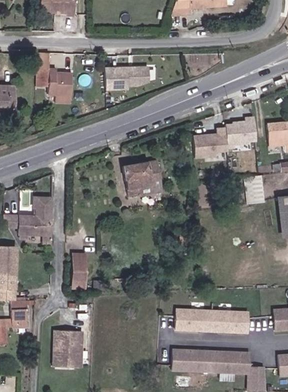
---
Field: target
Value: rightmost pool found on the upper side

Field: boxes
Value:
[78,74,93,88]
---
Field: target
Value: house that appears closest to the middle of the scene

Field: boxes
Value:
[124,161,164,198]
